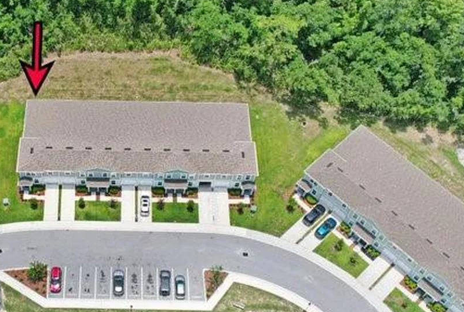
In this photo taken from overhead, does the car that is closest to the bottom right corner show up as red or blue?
blue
